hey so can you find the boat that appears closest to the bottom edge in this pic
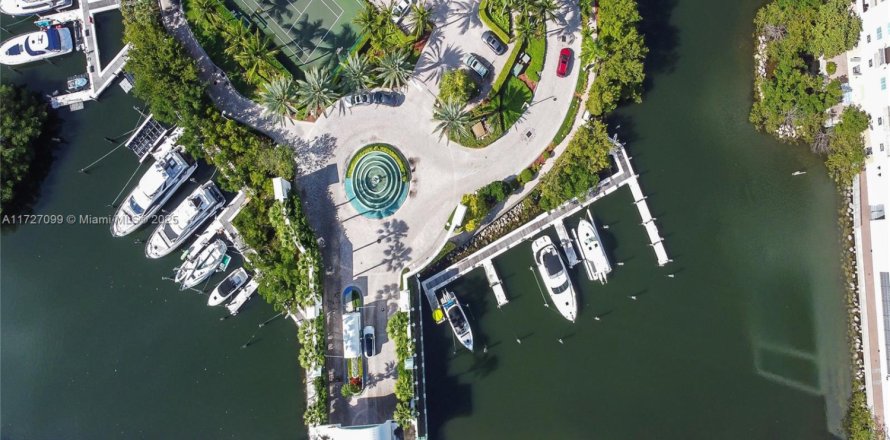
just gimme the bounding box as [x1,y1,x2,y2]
[438,290,474,351]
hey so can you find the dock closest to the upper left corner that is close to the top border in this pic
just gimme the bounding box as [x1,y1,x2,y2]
[35,7,83,28]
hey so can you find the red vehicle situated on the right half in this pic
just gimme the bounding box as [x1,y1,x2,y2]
[556,48,574,78]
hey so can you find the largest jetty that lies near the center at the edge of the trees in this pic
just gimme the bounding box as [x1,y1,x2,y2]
[419,170,637,293]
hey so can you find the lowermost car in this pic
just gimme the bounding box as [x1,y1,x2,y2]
[362,325,376,357]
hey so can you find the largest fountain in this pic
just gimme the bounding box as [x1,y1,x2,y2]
[342,141,413,221]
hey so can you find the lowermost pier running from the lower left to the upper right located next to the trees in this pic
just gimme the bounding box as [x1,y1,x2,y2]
[229,280,265,316]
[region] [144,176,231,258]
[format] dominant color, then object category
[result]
white boat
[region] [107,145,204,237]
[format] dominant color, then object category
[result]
white boat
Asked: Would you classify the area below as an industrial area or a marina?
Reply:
marina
